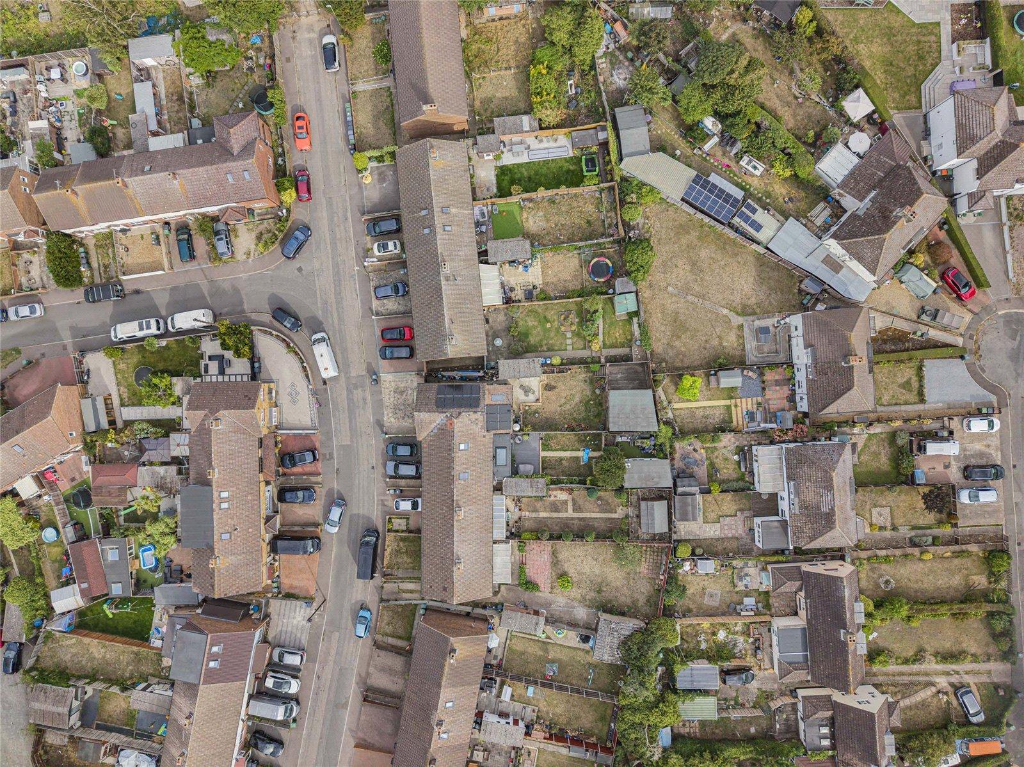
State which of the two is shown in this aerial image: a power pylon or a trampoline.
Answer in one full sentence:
Of the two, only a trampoline appears.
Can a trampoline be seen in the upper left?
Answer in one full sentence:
Yes, in the upper left there is a trampoline.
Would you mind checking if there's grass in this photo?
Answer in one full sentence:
Yes, grass can be seen from above here.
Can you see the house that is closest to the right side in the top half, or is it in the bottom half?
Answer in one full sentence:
The top half of the photo is where the house that is closest to the right side is.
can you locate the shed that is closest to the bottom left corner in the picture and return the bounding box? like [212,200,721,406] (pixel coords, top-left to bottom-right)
[27,679,85,729]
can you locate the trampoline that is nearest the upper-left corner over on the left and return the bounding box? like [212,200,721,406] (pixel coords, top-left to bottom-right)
[239,80,273,115]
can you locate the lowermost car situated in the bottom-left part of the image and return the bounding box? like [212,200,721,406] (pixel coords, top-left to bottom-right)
[245,730,286,757]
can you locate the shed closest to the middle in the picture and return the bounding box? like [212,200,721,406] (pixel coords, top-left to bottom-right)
[499,358,541,379]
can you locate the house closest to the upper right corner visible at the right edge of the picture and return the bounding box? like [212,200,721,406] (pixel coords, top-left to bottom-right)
[931,86,1024,213]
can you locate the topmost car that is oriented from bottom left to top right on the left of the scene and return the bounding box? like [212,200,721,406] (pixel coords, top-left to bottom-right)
[280,224,312,262]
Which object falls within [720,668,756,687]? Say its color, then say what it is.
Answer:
gray car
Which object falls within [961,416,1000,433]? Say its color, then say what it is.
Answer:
white car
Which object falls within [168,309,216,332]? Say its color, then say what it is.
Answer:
white vehicle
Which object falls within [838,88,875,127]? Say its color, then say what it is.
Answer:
white gazebo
